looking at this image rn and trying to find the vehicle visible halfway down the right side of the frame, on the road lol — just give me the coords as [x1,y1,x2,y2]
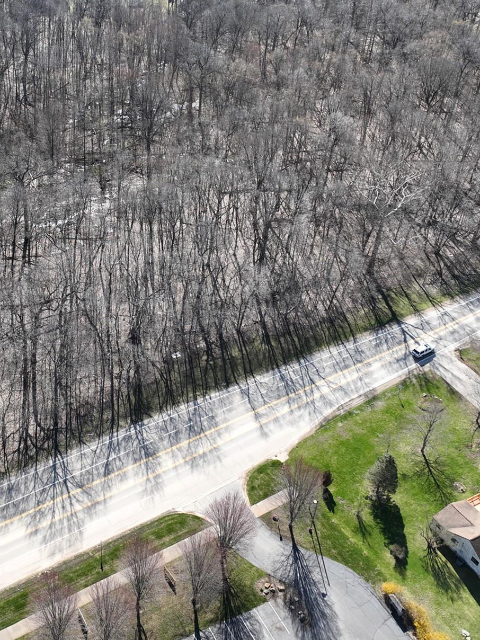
[411,345,438,361]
